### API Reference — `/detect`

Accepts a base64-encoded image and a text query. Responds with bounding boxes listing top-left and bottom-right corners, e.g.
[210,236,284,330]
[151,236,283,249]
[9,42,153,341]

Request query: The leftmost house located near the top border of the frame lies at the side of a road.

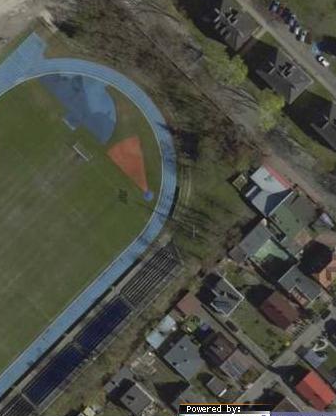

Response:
[204,0,259,49]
